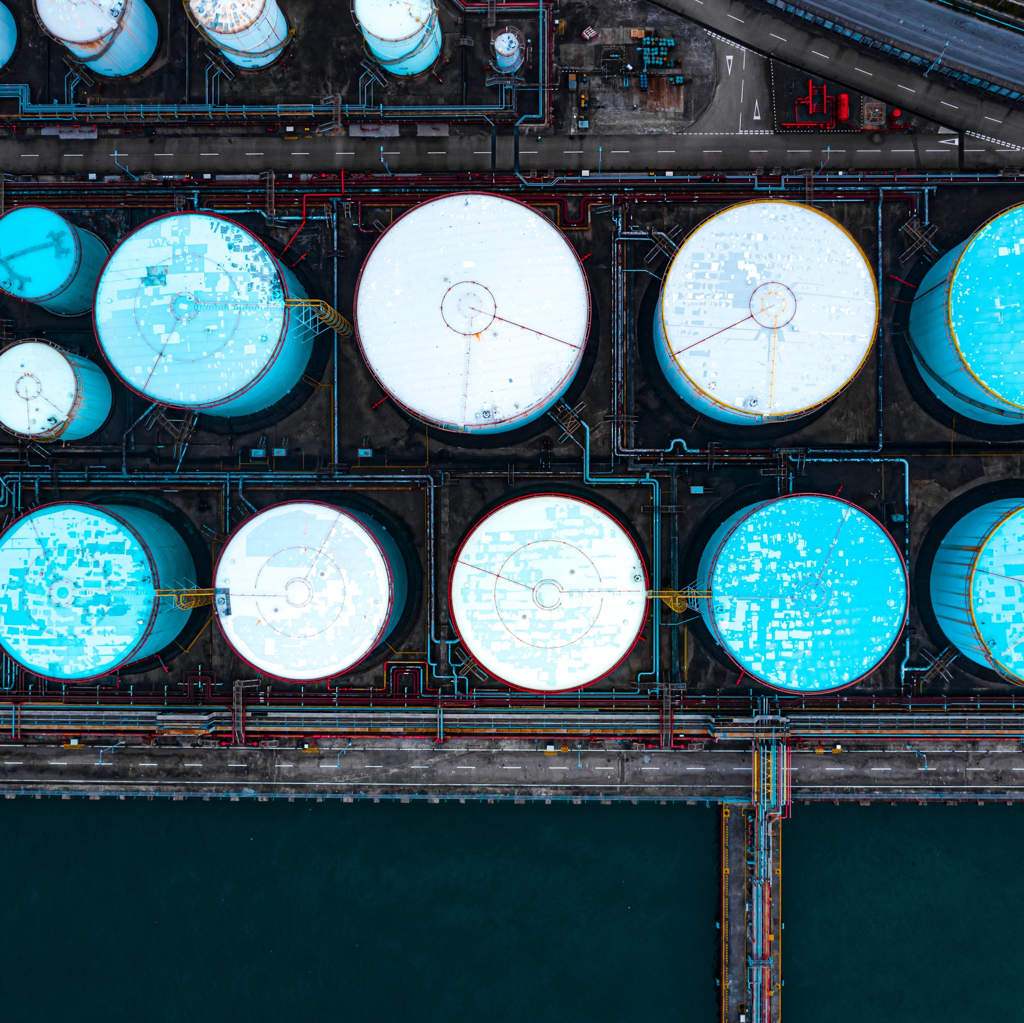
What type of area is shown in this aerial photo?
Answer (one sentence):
The picture captures an industrial area.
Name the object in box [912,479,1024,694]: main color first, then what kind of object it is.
blue storage tank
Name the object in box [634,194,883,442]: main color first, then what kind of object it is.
white storage tank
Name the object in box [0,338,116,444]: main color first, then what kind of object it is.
white storage tank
